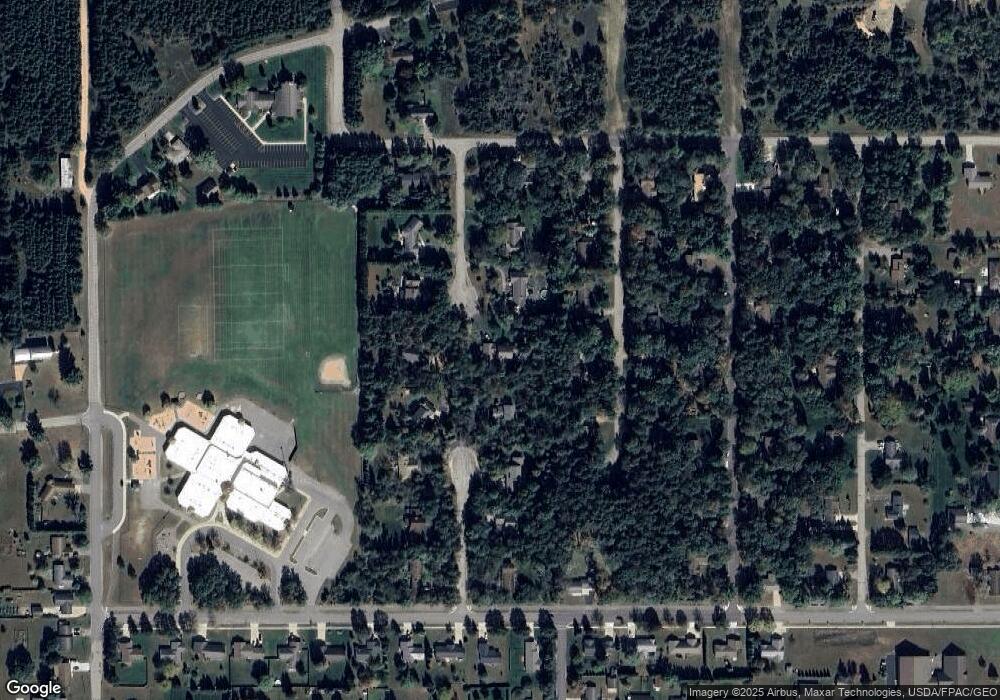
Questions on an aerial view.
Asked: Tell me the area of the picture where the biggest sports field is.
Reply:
left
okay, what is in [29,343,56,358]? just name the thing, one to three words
barn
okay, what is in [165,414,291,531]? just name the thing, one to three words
building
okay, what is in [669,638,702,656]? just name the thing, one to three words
house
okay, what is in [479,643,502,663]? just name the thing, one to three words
house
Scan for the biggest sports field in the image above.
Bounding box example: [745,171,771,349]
[104,197,354,404]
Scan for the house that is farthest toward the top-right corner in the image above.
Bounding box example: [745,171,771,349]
[965,168,993,188]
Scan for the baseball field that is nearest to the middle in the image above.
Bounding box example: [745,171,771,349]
[316,353,354,391]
